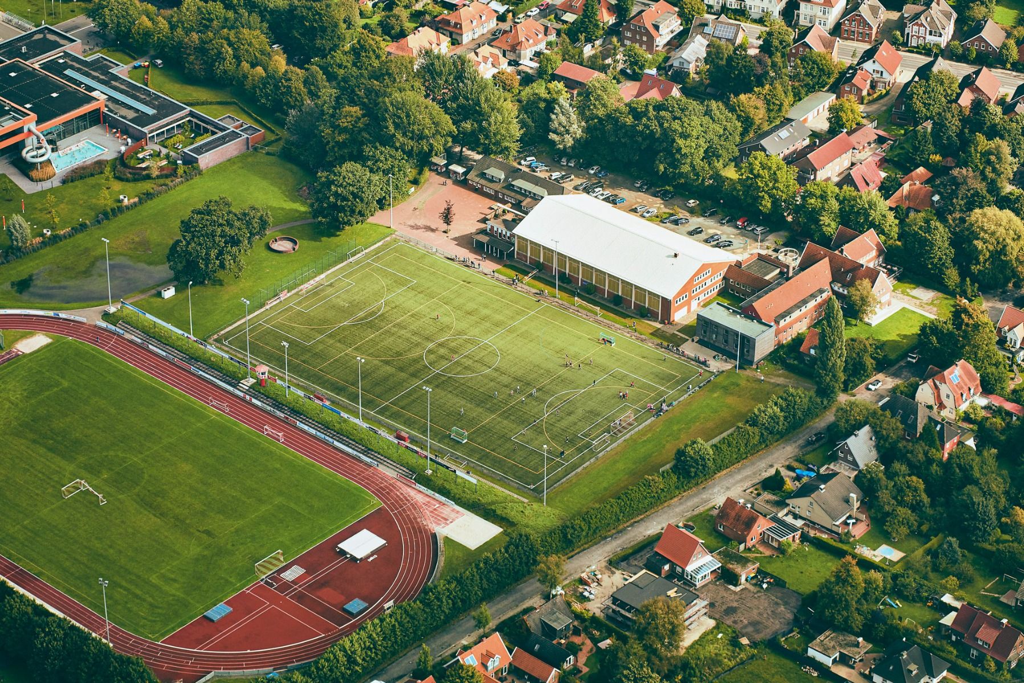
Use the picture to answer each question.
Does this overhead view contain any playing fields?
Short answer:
Yes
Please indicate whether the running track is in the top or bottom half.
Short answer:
bottom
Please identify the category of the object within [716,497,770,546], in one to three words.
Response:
house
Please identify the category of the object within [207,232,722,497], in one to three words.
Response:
sports field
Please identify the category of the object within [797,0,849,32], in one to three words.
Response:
house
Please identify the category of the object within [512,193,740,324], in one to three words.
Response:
building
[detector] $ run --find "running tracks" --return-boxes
[0,317,435,671]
